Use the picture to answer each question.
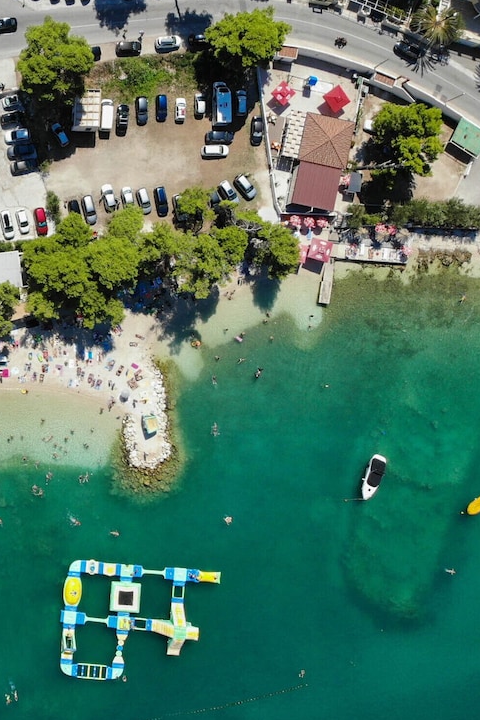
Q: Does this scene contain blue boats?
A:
No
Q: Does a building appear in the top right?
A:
Yes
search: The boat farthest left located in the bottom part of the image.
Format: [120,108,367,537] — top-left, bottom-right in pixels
[361,452,386,500]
